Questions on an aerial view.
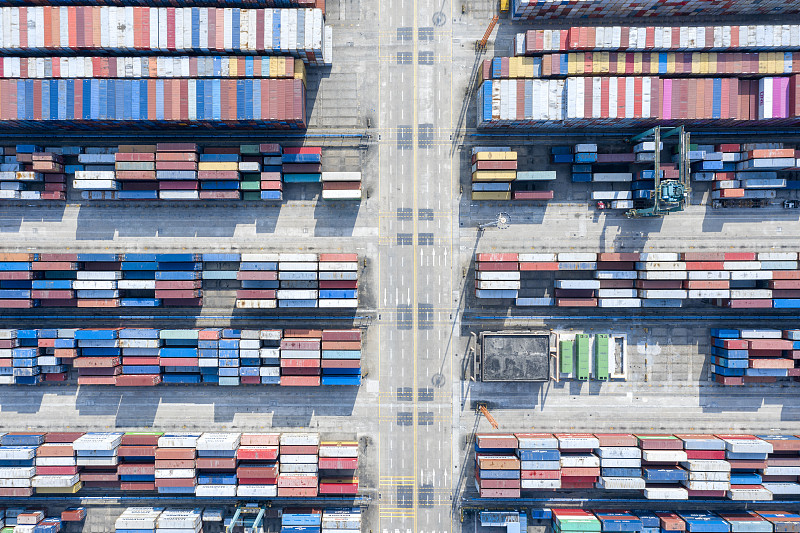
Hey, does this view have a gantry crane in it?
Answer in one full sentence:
Yes, the image includes a gantry crane.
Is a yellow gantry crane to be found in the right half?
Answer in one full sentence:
No, no yellow gantry crane appears in the right half.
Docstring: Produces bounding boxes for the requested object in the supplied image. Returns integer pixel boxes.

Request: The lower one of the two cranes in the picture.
[223,508,269,533]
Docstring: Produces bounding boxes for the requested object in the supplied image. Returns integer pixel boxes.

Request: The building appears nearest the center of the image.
[477,327,548,382]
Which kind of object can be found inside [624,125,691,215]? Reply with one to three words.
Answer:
container crane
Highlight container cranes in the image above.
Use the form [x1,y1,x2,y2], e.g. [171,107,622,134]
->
[223,508,269,533]
[624,125,691,215]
